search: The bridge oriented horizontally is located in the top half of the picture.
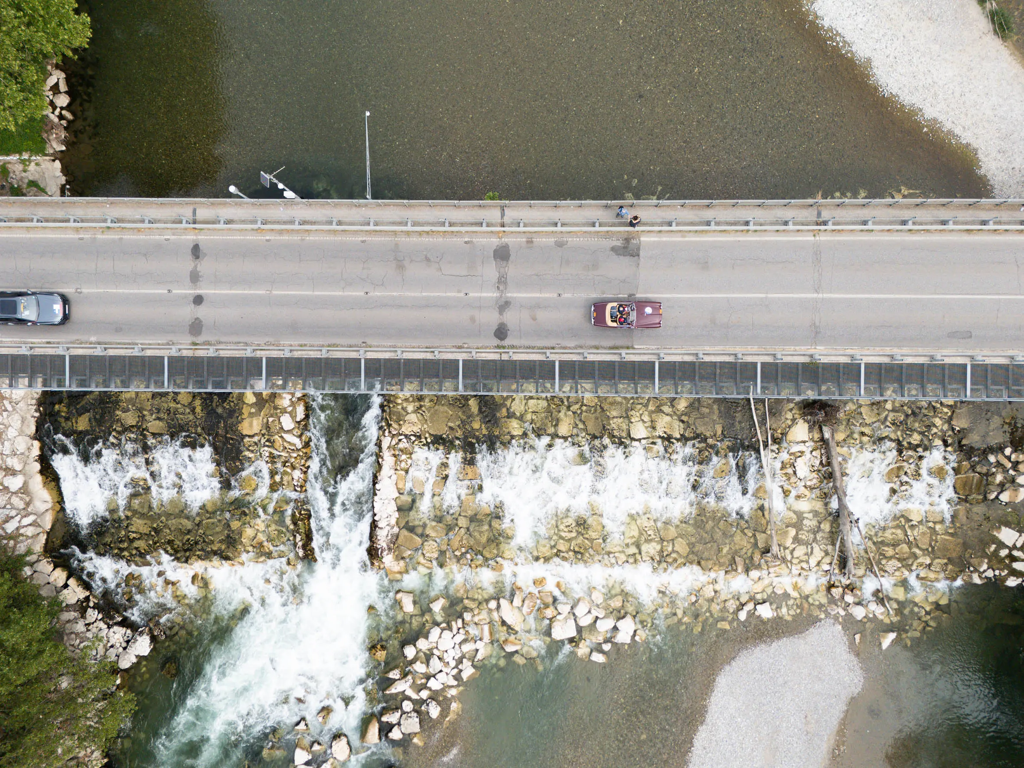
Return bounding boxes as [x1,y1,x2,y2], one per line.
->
[0,203,1024,361]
